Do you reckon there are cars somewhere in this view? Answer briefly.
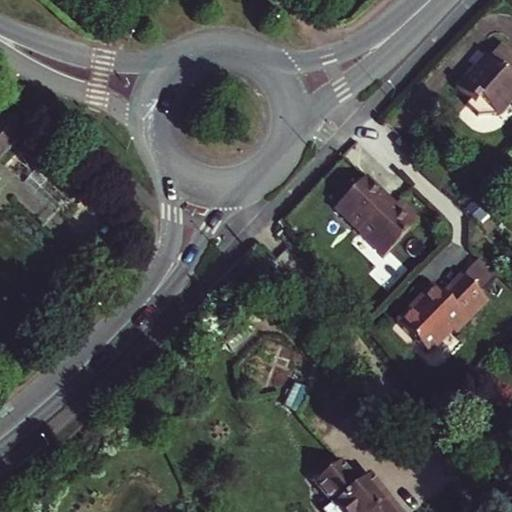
Yes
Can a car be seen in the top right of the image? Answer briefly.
Yes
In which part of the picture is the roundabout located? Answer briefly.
top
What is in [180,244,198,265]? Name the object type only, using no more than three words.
car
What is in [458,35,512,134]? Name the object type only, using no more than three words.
house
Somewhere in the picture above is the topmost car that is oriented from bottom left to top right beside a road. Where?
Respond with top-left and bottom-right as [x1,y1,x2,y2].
[204,210,224,229]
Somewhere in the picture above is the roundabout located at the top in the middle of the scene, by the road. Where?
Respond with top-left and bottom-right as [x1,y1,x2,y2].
[116,26,322,233]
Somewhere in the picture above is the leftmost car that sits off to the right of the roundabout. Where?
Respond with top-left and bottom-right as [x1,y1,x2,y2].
[356,126,378,139]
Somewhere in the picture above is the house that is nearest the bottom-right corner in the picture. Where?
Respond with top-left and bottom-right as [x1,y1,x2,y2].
[318,460,404,512]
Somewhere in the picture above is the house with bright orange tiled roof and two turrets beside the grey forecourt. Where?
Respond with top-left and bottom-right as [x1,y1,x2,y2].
[404,248,492,348]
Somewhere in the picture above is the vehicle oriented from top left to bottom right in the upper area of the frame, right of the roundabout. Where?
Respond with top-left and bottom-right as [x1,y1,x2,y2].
[390,129,406,150]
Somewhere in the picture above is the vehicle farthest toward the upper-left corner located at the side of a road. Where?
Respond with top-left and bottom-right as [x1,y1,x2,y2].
[164,178,178,202]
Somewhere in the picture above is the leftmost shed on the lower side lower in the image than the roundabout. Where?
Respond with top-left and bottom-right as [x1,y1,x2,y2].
[284,382,304,410]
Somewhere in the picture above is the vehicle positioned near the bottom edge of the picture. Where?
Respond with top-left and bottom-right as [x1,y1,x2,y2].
[398,488,417,508]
